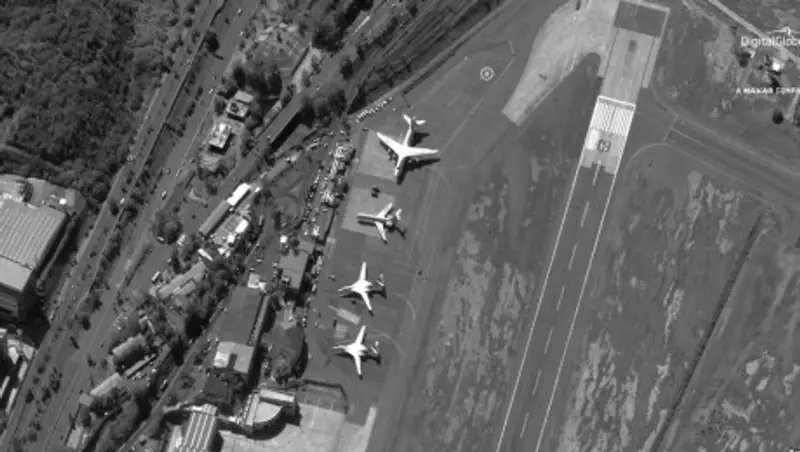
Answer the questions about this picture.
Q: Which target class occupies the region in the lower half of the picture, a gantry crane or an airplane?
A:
airplane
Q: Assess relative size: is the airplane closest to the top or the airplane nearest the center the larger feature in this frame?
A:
the airplane closest to the top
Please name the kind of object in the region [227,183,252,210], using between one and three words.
building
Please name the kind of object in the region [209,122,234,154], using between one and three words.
house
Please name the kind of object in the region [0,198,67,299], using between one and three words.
hangar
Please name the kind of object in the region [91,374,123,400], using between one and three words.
building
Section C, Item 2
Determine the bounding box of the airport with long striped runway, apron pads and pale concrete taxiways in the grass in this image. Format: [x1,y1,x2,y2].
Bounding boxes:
[217,0,800,452]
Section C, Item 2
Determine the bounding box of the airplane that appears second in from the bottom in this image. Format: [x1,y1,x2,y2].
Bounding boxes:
[339,262,385,311]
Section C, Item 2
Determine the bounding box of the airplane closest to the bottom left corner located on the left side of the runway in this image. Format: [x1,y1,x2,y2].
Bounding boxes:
[333,326,379,374]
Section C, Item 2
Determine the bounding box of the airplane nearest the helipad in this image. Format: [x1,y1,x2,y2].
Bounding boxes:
[376,106,438,177]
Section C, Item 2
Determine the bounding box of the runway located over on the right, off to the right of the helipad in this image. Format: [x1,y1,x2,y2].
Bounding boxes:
[495,0,670,452]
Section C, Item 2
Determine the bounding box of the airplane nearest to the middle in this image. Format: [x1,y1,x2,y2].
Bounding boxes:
[357,205,402,241]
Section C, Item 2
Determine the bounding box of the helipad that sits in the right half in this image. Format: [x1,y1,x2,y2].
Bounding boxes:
[479,65,495,81]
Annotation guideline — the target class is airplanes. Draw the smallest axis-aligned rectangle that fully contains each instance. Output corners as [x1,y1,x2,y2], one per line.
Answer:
[339,262,385,311]
[357,205,402,241]
[333,326,379,374]
[376,106,438,177]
